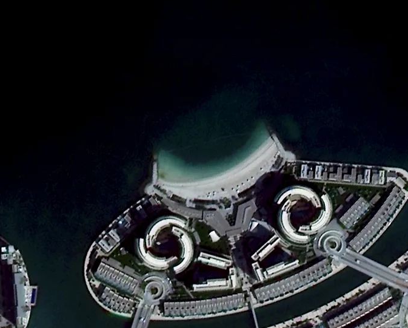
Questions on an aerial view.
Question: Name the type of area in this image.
residential area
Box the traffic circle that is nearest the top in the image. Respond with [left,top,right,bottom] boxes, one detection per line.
[316,228,349,261]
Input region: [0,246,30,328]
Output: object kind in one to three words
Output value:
building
